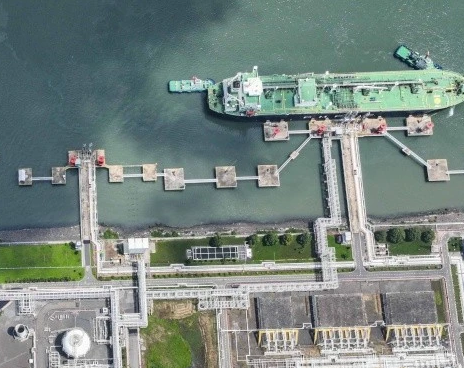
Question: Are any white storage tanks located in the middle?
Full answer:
No, no white storage tank appears in the middle.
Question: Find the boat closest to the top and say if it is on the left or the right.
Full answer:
The boat closest to the top sits on the right side.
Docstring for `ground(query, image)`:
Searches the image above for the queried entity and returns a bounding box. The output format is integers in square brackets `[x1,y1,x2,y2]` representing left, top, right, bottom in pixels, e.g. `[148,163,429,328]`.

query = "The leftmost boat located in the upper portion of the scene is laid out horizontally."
[167,77,211,94]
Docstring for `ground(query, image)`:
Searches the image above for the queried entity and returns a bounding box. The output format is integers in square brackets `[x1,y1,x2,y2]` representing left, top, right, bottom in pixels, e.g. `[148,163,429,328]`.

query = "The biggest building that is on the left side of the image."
[127,238,148,256]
